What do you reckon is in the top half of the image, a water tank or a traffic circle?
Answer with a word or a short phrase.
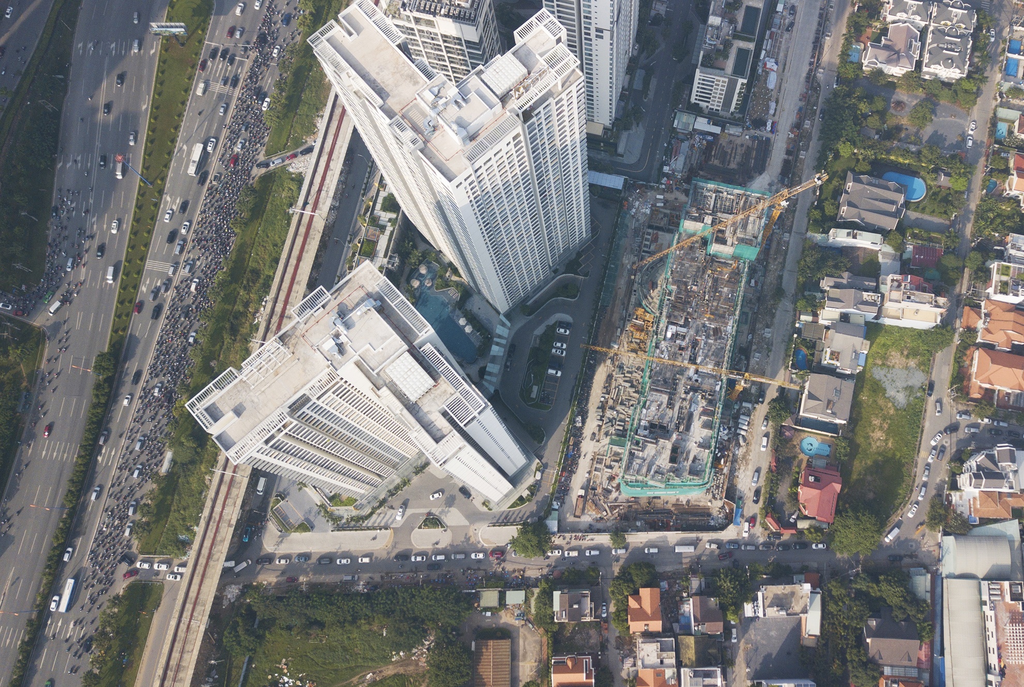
water tank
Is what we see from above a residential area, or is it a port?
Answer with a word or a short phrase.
residential area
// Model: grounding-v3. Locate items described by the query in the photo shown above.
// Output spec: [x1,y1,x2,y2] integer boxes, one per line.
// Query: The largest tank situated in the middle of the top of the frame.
[480,48,531,97]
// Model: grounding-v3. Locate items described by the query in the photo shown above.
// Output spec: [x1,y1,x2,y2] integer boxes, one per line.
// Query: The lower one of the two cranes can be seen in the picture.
[581,344,804,412]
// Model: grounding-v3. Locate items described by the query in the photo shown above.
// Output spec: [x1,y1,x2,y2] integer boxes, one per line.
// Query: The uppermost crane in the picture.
[633,172,829,282]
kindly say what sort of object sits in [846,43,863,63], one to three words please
swimming pool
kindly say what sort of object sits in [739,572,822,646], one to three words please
house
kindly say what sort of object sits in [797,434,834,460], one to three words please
swimming pool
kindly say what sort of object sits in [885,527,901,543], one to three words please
vehicle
